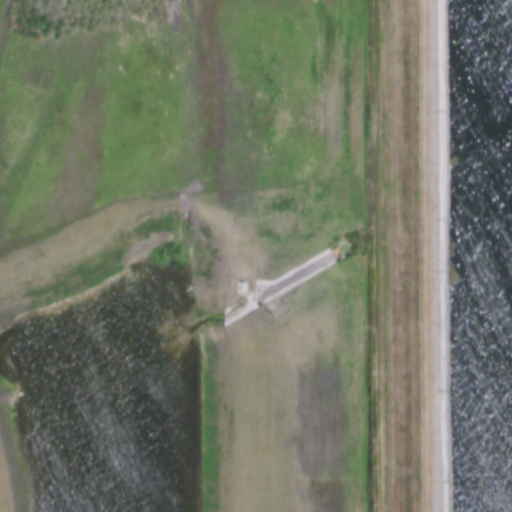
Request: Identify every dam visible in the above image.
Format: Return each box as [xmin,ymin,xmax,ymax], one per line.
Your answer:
[374,0,452,512]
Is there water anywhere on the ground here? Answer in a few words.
Yes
